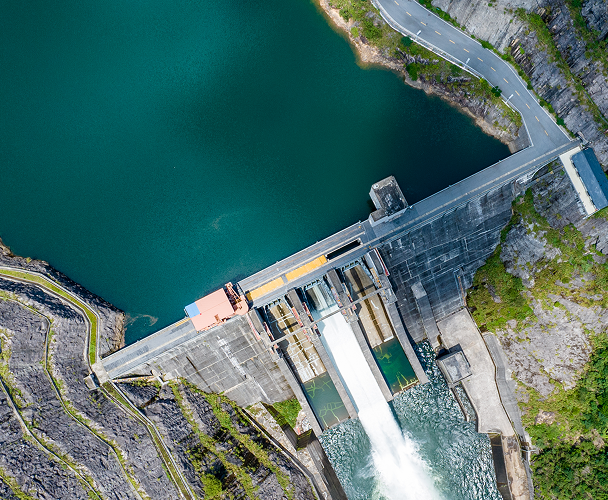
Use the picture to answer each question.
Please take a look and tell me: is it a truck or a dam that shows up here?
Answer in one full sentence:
Looking from above, you can make out a dam.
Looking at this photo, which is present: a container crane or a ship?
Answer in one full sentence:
The one in the frame is a container crane.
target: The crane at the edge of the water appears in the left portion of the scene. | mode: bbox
[185,276,252,333]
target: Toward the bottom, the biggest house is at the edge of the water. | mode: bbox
[435,350,472,389]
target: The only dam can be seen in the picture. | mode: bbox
[91,143,565,435]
